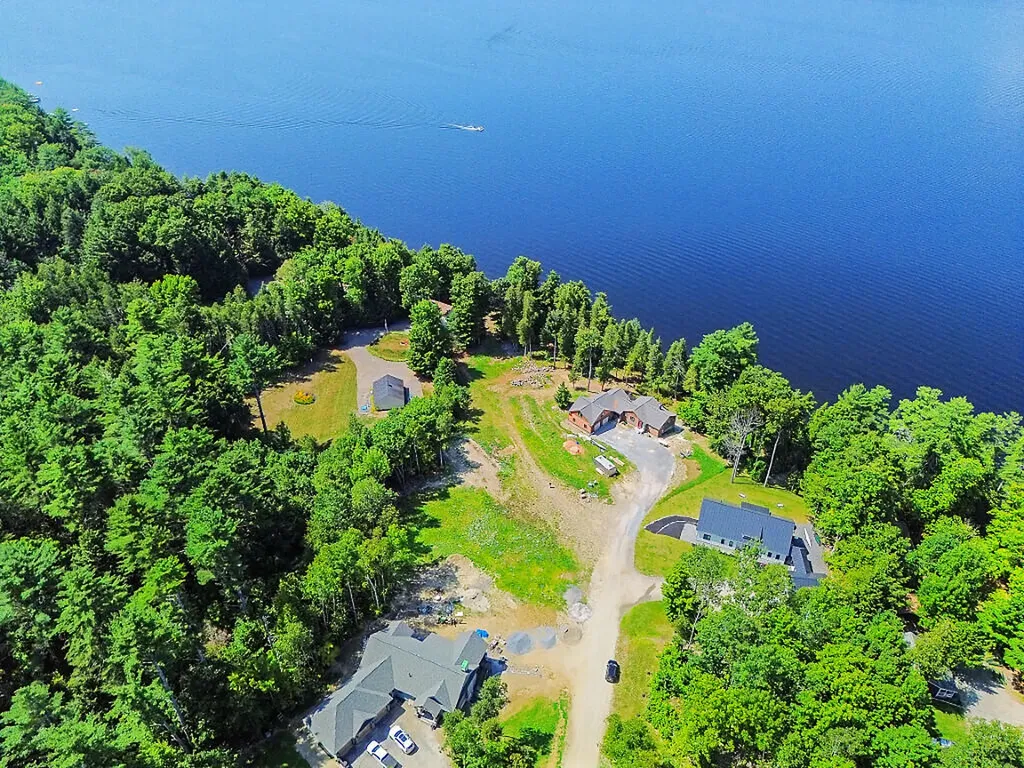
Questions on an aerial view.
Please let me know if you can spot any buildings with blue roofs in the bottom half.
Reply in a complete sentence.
Yes, looking in the bottom half, one can make out a building with a blue roof.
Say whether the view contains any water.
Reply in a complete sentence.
Yes, the picture does contain water.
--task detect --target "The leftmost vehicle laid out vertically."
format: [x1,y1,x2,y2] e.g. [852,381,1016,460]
[605,655,619,683]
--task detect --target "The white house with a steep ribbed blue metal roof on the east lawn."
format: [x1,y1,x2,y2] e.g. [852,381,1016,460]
[696,499,802,581]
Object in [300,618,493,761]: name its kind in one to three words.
house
